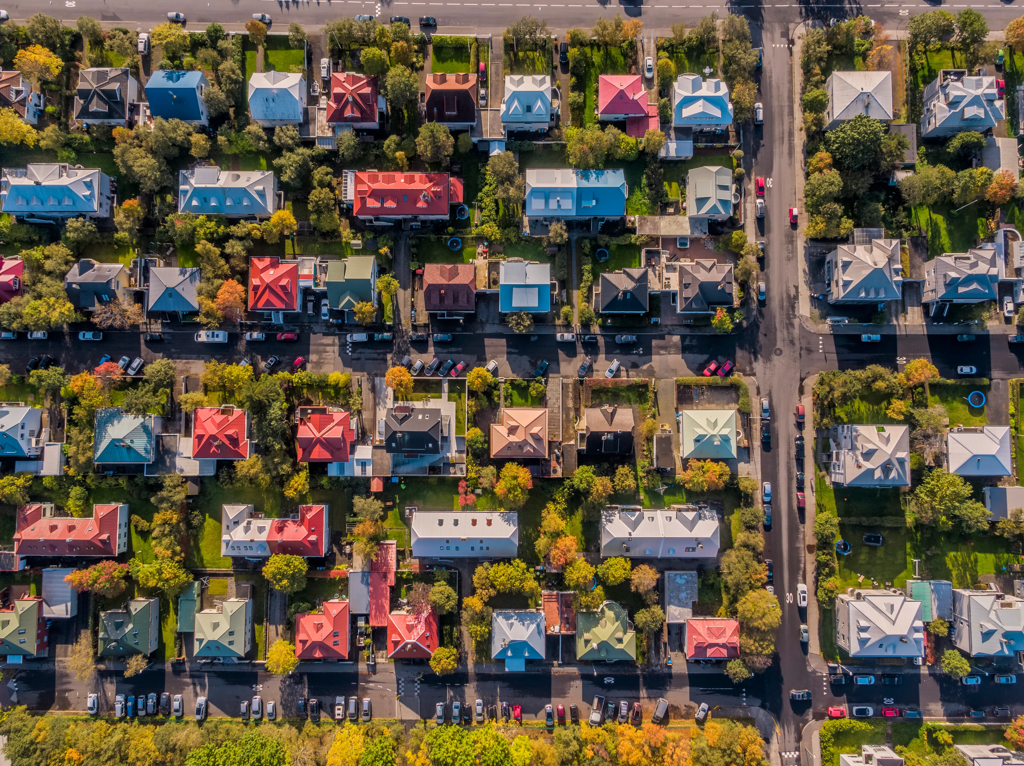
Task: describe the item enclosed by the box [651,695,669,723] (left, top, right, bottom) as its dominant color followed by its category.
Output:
gray vehicle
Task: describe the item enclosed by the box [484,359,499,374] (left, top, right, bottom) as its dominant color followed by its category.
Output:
white car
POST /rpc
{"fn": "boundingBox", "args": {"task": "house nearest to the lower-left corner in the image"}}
[0,595,55,664]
